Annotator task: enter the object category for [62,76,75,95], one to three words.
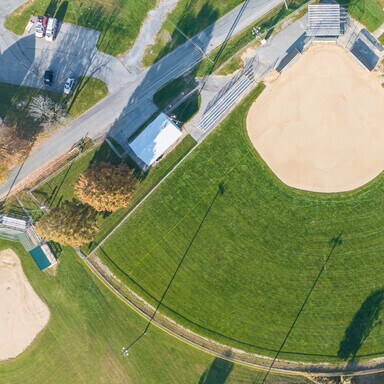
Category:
vehicle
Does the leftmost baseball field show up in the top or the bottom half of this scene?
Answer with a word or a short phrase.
bottom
